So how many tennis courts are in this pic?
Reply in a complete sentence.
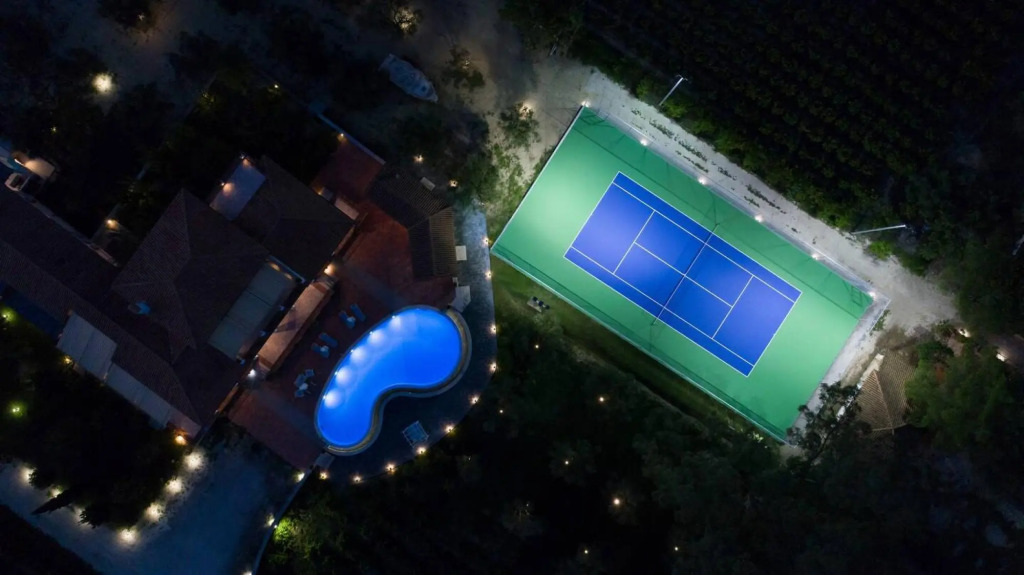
In total, 1 tennis court can be seen.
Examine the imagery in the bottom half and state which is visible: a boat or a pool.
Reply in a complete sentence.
Looking in the bottom half, you will find a pool.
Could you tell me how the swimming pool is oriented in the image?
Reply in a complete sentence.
The swimming pool is laid out on a diagonal.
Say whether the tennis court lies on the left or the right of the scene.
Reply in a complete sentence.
You can find the tennis court on the right side of the picture.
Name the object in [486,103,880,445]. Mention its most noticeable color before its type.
green tennis court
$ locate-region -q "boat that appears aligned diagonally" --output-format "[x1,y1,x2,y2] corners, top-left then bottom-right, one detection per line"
[379,57,438,101]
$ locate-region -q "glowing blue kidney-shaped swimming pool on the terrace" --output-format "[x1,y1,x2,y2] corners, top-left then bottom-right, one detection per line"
[315,305,471,457]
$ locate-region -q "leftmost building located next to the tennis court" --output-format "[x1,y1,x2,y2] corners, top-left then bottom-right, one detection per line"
[0,155,361,438]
